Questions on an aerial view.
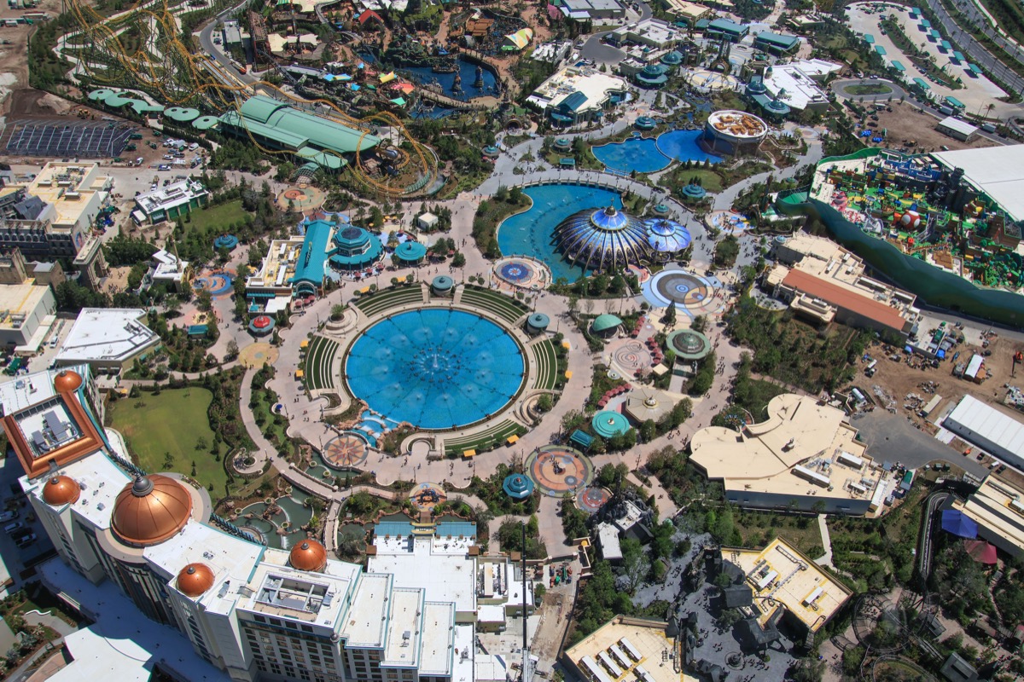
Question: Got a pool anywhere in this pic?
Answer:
Yes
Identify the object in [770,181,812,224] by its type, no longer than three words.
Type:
building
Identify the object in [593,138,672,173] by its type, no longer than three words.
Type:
swimming pool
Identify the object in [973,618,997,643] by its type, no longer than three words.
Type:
shed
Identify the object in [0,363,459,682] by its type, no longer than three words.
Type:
building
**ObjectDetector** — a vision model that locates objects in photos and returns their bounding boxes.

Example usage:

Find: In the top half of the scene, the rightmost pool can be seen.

[657,128,725,162]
